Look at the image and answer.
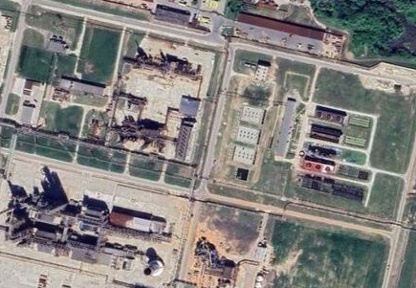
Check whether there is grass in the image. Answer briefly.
Yes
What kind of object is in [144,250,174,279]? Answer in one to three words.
chimney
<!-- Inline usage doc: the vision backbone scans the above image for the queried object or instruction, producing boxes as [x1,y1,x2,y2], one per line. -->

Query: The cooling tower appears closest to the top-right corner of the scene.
[315,106,352,124]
